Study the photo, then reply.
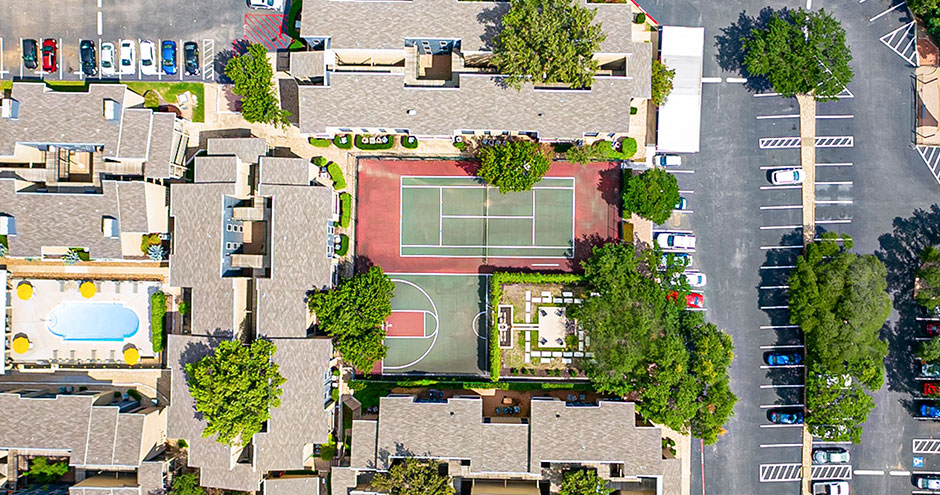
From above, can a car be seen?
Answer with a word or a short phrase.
Yes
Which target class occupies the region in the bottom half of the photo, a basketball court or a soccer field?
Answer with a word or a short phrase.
basketball court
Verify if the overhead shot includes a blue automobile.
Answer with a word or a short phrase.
Yes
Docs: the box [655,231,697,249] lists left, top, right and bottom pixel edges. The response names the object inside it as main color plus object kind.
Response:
white vehicle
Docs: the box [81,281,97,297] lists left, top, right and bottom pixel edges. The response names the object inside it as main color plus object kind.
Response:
yellow umbrella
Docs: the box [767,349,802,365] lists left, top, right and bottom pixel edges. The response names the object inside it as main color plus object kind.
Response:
blue car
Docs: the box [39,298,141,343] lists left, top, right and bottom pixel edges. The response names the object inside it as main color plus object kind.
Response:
white swimming pool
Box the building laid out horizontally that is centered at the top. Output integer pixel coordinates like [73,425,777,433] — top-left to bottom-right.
[289,0,652,145]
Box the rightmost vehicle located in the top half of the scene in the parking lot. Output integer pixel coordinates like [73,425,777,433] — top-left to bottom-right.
[769,167,804,184]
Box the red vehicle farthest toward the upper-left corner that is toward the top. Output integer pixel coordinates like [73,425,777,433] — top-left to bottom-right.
[39,39,60,73]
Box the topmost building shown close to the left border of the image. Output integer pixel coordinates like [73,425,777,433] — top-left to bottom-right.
[0,83,195,262]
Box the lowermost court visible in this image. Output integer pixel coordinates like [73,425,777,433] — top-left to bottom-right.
[387,274,489,375]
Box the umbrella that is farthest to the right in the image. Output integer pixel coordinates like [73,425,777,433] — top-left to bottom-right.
[124,346,142,362]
